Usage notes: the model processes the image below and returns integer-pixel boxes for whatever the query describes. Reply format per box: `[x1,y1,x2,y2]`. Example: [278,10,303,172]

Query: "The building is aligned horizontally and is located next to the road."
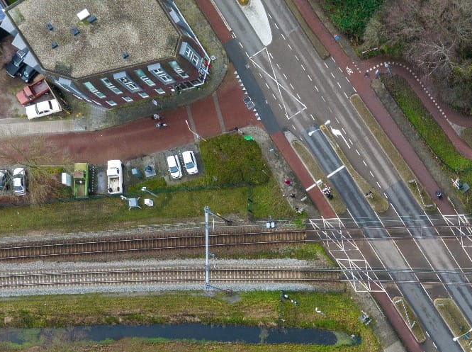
[3,0,212,102]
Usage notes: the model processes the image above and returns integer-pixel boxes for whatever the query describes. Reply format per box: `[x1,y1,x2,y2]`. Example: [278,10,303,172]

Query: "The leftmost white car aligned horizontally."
[27,100,62,118]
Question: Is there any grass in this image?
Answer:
Yes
